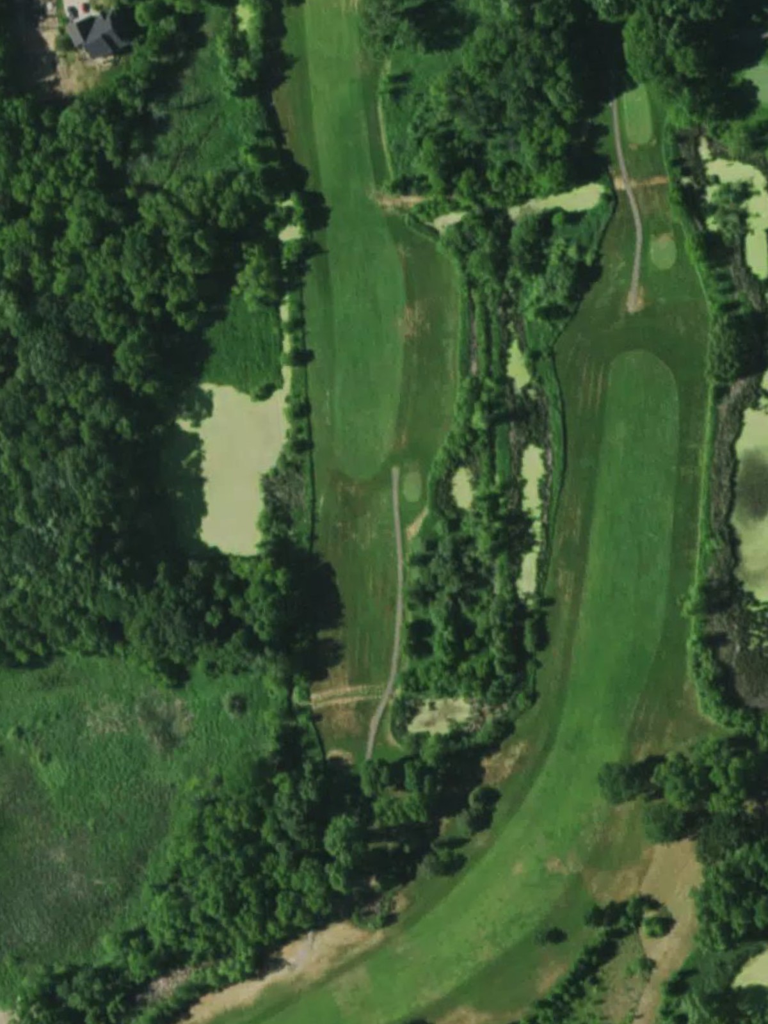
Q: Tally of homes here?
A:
1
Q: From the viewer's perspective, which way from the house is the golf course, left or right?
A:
to its right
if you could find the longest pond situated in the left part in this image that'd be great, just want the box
[170,276,292,558]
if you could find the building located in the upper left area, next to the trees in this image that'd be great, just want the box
[67,17,126,58]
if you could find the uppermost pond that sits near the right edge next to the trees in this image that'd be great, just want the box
[699,135,768,279]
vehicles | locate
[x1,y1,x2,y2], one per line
[69,5,76,16]
[81,3,86,13]
[47,1,52,11]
